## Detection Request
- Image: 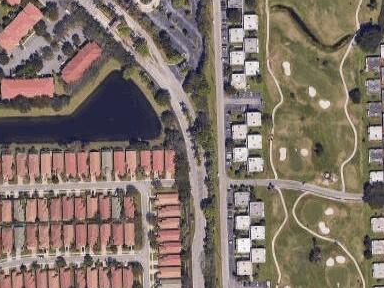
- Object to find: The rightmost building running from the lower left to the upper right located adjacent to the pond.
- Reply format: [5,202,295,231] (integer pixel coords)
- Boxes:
[59,40,103,83]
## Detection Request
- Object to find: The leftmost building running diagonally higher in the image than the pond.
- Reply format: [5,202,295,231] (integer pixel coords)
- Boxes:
[0,2,44,54]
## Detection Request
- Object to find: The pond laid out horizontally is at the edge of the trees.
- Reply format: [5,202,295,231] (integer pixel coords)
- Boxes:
[0,71,160,144]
